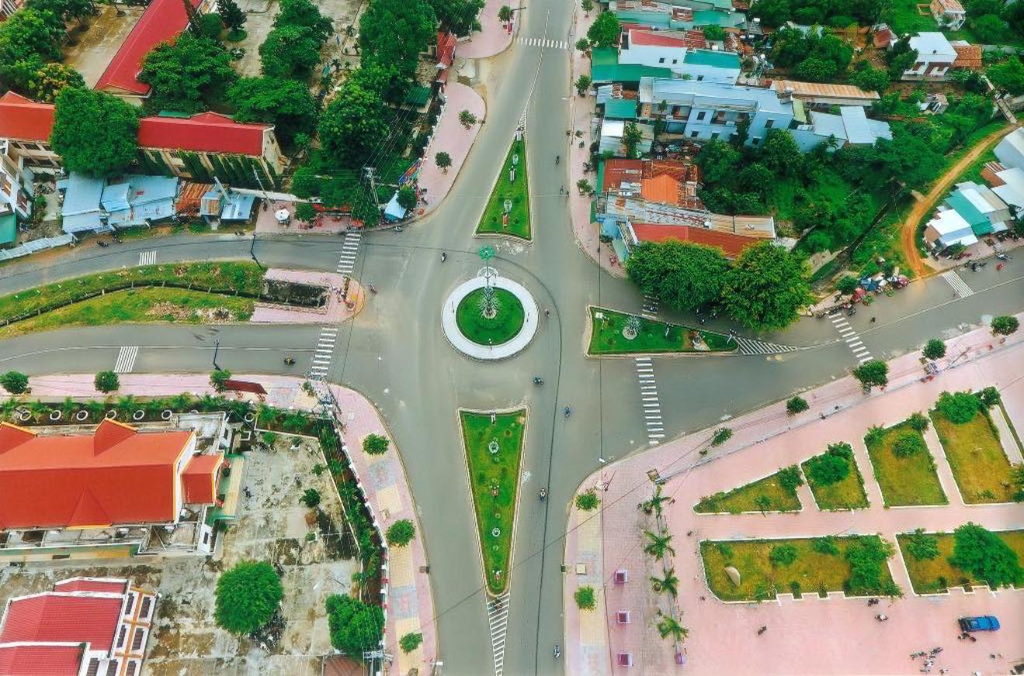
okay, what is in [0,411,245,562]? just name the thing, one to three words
building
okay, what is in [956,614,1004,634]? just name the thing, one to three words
vehicle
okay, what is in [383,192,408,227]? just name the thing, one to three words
tent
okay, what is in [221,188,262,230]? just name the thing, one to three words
shed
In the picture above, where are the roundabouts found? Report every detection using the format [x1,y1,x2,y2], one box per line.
[441,276,540,360]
